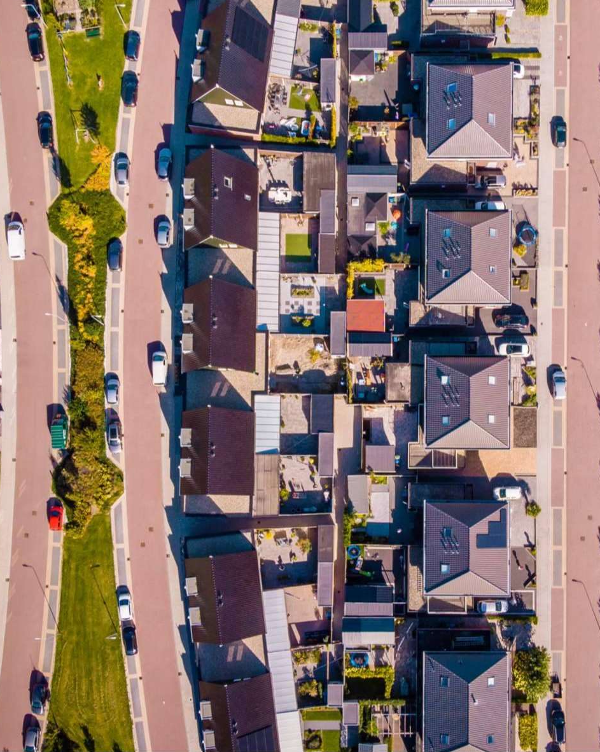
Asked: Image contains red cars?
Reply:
Yes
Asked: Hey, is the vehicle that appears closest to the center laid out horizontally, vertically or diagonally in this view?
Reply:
vertically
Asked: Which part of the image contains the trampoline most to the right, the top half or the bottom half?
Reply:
top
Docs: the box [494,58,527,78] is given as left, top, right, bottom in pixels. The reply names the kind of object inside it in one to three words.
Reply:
car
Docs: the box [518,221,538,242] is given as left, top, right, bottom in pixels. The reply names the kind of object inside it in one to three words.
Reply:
trampoline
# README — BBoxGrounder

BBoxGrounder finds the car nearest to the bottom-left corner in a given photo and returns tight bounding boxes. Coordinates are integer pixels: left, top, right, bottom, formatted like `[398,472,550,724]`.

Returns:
[20,723,42,752]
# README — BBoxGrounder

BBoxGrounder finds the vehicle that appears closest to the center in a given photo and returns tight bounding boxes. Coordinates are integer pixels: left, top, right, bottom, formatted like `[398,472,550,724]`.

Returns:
[147,346,168,388]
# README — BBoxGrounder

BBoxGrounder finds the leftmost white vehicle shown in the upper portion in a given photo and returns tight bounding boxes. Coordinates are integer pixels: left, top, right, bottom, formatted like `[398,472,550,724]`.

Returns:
[2,218,25,260]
